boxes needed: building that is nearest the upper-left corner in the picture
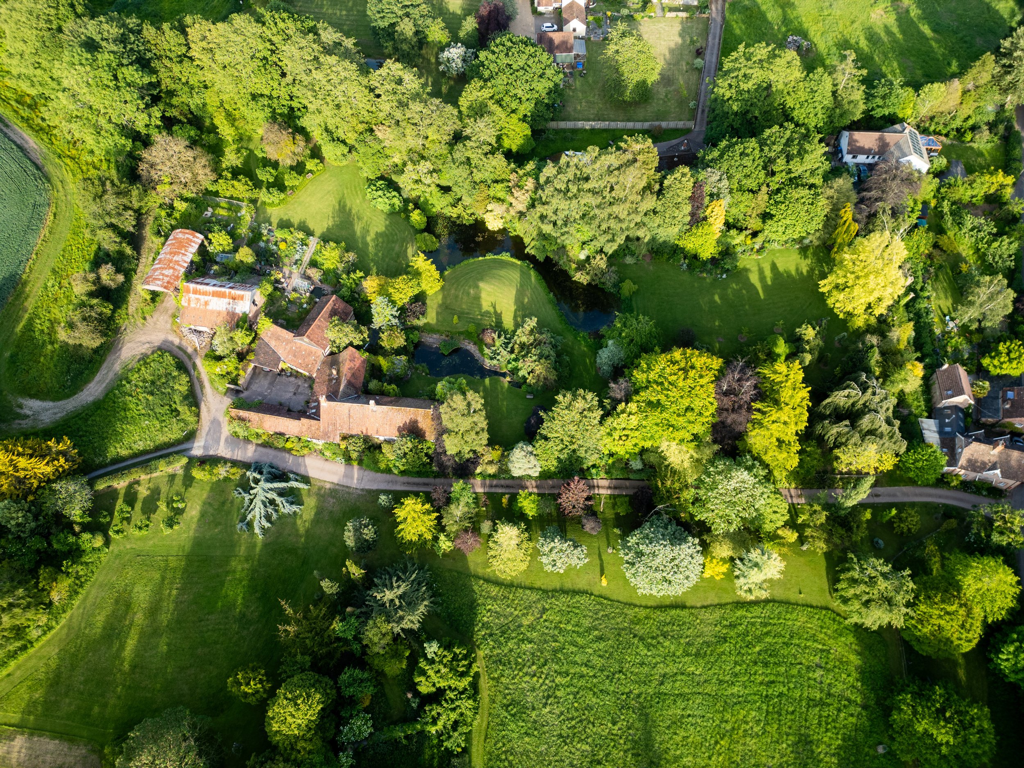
[141,229,210,302]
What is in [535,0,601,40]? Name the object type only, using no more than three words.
house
